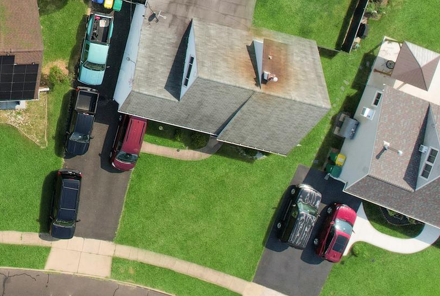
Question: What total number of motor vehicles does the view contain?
6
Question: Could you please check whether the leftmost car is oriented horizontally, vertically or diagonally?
vertically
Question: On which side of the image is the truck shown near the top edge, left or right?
left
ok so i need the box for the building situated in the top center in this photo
[111,0,331,158]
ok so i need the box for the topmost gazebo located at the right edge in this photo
[373,37,440,91]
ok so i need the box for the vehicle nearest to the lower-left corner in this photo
[46,165,82,239]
